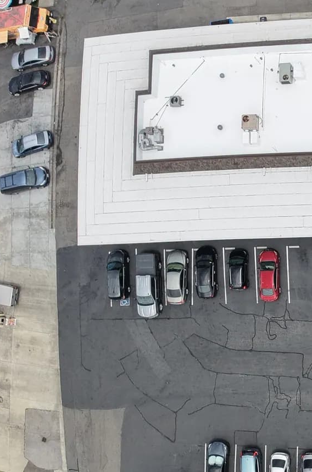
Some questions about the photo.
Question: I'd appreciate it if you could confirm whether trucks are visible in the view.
Yes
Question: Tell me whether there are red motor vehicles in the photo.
Yes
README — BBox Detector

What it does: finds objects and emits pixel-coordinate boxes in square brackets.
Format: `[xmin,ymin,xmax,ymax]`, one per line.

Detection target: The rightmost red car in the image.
[256,248,281,301]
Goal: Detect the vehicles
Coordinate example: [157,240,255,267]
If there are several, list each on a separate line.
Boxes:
[226,249,250,291]
[301,451,312,472]
[0,165,53,194]
[240,446,262,472]
[0,283,25,308]
[0,5,57,51]
[11,46,58,72]
[256,248,281,301]
[269,451,292,472]
[103,249,133,300]
[8,71,56,95]
[193,246,219,298]
[133,250,163,318]
[163,249,190,304]
[11,131,58,158]
[204,439,229,472]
